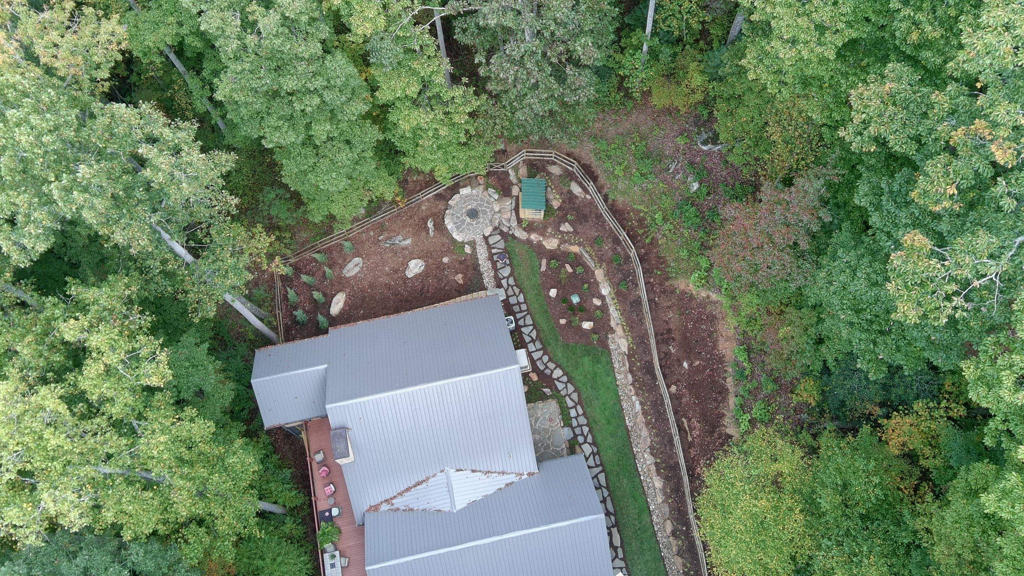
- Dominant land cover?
trees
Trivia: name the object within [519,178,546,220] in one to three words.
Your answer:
shed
